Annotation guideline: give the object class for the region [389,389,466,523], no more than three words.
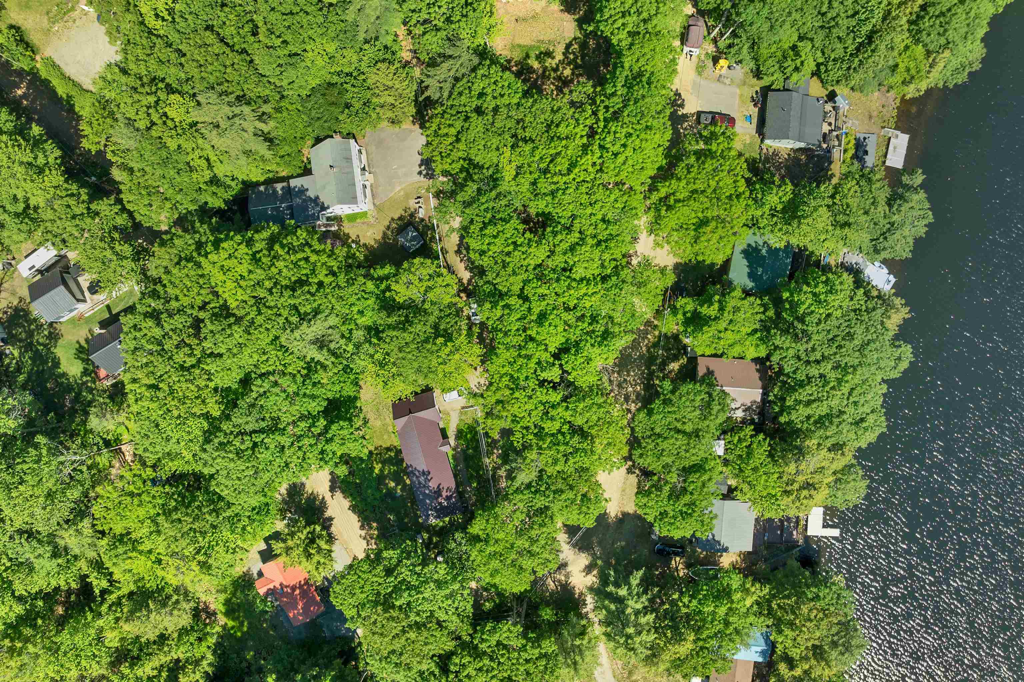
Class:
house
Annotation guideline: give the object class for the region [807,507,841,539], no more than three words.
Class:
pier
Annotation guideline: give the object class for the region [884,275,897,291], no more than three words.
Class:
boat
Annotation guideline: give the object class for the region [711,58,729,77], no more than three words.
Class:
work vehicle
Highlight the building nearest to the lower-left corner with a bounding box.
[256,550,330,626]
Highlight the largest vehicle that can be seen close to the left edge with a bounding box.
[17,244,67,280]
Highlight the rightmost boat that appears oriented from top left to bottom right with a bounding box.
[872,260,889,274]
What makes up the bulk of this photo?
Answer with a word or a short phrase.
trees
